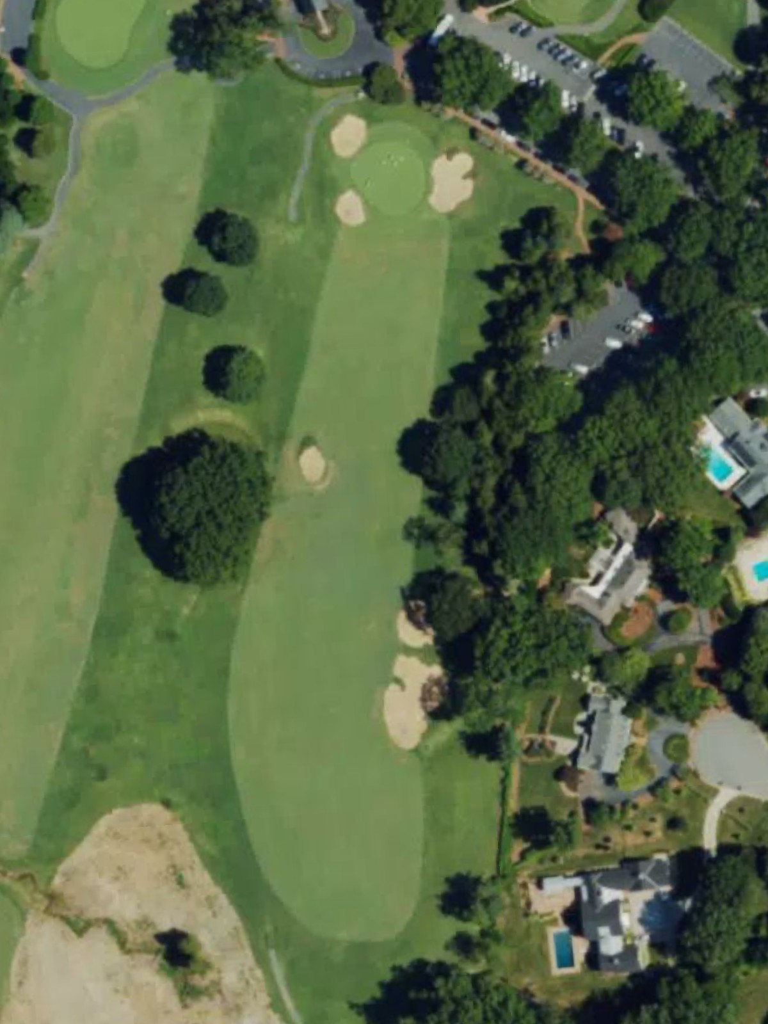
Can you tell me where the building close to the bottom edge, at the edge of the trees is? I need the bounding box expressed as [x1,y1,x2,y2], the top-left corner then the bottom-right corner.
[543,854,674,977]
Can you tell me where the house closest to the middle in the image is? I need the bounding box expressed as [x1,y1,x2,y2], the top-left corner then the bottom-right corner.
[566,506,650,624]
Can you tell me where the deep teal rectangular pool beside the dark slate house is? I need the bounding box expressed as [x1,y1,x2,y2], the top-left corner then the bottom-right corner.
[547,927,589,976]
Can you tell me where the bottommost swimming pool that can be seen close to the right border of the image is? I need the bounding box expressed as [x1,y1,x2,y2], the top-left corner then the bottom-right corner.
[732,531,768,604]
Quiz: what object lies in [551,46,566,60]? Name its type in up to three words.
car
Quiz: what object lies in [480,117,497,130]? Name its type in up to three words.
vehicle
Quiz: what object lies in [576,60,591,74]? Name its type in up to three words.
car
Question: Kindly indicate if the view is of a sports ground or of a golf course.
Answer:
golf course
